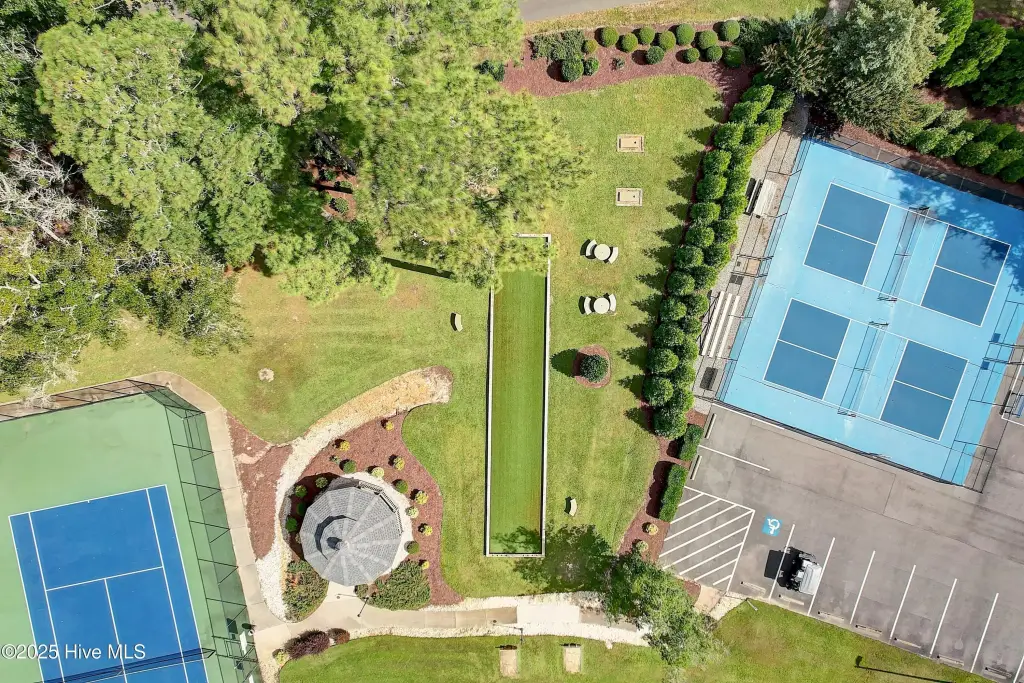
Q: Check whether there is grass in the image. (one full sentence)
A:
Yes, the picture does contain grass.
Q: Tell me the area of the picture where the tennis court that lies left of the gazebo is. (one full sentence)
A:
Look in the bottom left portion of the view to spot the tennis court that lies left of the gazebo.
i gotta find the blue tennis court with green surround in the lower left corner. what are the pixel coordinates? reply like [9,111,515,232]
[0,387,264,683]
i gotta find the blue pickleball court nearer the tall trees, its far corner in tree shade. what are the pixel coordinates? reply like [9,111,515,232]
[761,138,1024,354]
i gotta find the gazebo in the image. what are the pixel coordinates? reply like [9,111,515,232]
[301,472,414,587]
